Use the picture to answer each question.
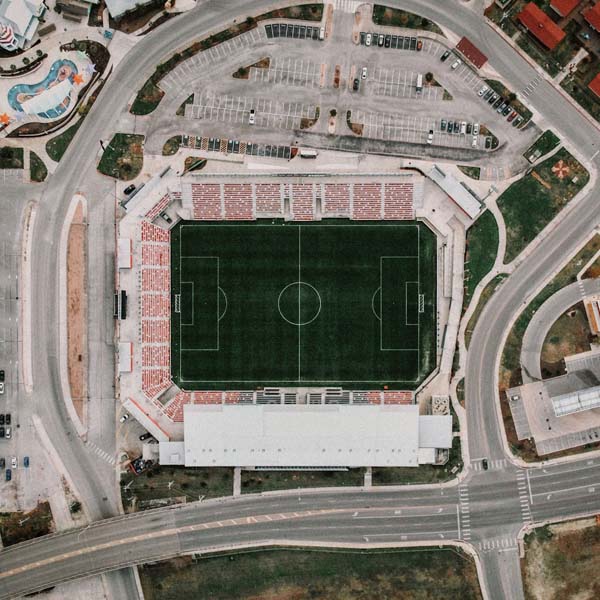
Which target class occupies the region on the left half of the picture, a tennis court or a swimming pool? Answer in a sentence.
Visible on the left half of the picture is a swimming pool.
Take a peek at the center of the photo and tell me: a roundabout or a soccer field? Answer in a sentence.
The one visible at the center of the photo is a soccer field.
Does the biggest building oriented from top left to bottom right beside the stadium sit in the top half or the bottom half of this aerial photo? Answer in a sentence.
The biggest building oriented from top left to bottom right beside the stadium sits in the top half of the picture.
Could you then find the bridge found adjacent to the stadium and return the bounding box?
[0,504,177,600]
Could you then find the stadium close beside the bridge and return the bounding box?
[141,173,452,471]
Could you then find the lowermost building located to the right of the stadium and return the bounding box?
[551,384,600,417]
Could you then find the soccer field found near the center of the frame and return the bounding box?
[171,219,437,391]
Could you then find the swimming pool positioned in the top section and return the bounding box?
[8,59,78,119]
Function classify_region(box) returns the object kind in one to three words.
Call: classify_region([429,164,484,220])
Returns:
building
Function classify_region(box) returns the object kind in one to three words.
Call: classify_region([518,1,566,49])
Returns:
house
